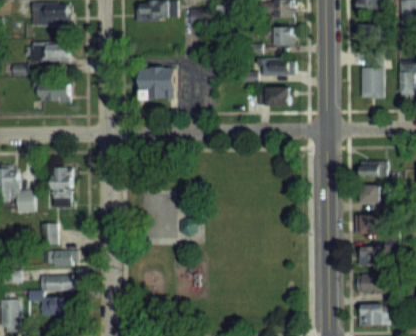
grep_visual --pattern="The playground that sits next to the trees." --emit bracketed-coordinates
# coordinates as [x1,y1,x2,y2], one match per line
[175,259,207,300]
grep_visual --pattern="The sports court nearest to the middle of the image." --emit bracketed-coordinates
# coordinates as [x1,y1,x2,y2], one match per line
[144,190,204,244]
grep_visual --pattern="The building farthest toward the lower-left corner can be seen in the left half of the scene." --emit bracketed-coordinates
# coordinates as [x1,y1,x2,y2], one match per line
[0,299,22,333]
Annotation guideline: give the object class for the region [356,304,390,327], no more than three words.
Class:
house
